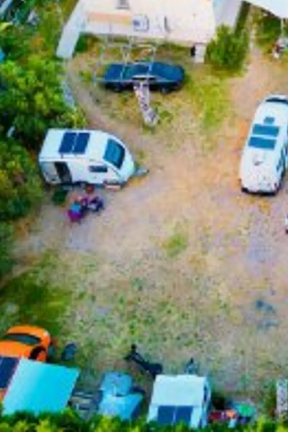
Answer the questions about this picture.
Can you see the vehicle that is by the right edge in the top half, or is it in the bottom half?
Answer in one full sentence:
You can find the vehicle that is by the right edge in the top half.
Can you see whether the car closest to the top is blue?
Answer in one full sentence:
Yes, blue is the color of the car closest to the top.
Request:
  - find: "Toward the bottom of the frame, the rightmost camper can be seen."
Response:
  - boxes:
[150,371,219,432]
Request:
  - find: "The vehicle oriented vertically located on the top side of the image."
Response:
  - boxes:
[242,97,288,191]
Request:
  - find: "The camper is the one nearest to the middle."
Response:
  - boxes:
[40,129,154,184]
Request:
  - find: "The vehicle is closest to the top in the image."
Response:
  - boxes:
[101,62,187,98]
